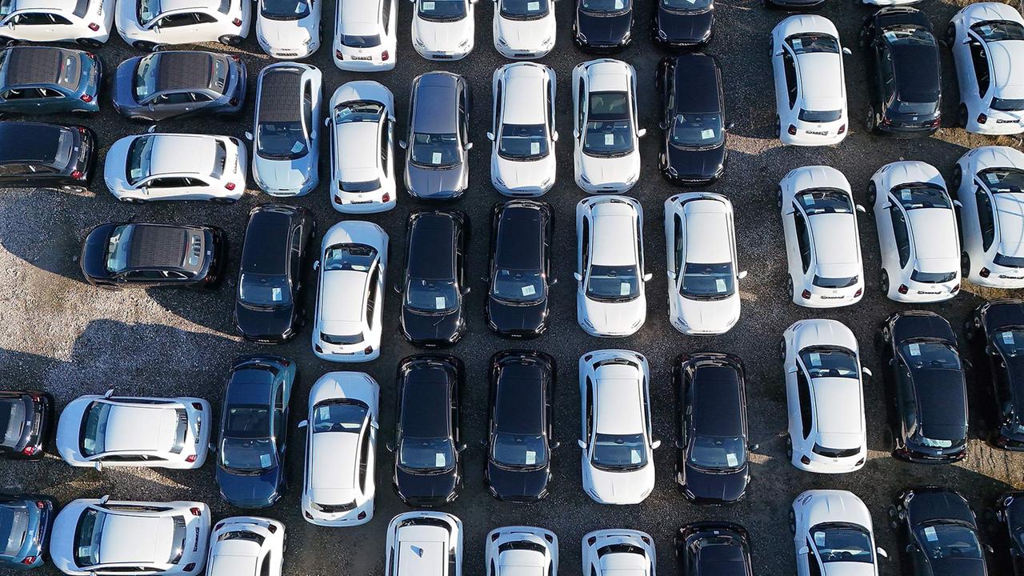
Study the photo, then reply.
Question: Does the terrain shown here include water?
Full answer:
No, the picture contains no water.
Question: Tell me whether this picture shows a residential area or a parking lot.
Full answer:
It's a parking lot.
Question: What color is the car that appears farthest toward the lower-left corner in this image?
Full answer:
From above, the car that appears farthest toward the lower-left corner appears blue.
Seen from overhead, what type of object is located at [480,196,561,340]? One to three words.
car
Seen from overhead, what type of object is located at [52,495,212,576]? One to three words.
car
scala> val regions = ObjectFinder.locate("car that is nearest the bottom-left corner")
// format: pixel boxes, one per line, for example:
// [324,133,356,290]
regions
[0,494,55,569]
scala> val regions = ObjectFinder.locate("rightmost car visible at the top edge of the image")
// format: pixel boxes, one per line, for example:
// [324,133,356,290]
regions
[948,5,1024,134]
